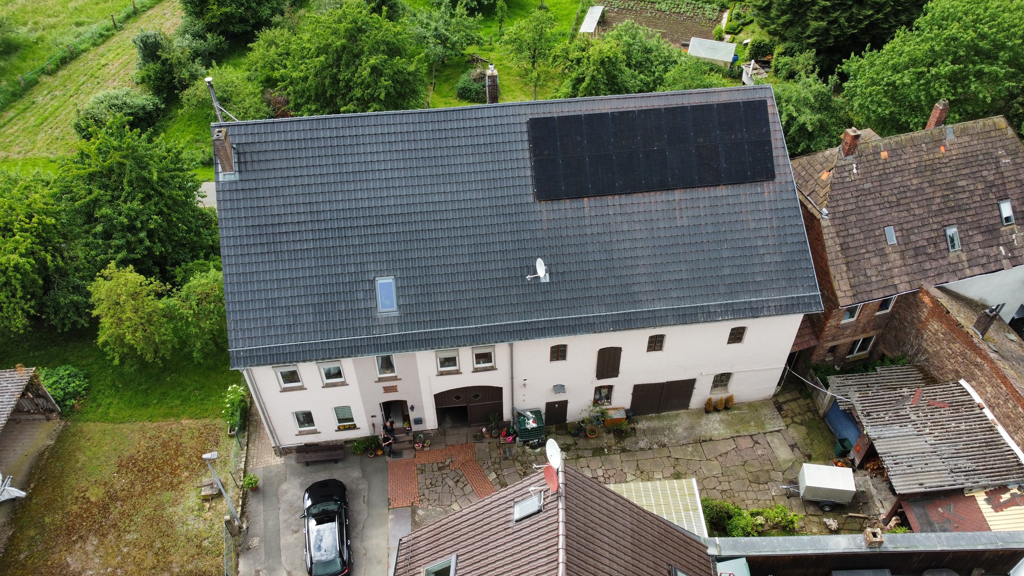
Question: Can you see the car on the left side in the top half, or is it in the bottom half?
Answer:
bottom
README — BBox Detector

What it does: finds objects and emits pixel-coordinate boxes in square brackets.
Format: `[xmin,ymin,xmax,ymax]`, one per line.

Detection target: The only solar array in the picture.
[527,100,776,200]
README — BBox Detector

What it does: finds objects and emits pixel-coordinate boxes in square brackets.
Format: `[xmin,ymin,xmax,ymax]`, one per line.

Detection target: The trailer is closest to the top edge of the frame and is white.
[771,465,856,517]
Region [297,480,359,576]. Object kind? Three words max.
car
